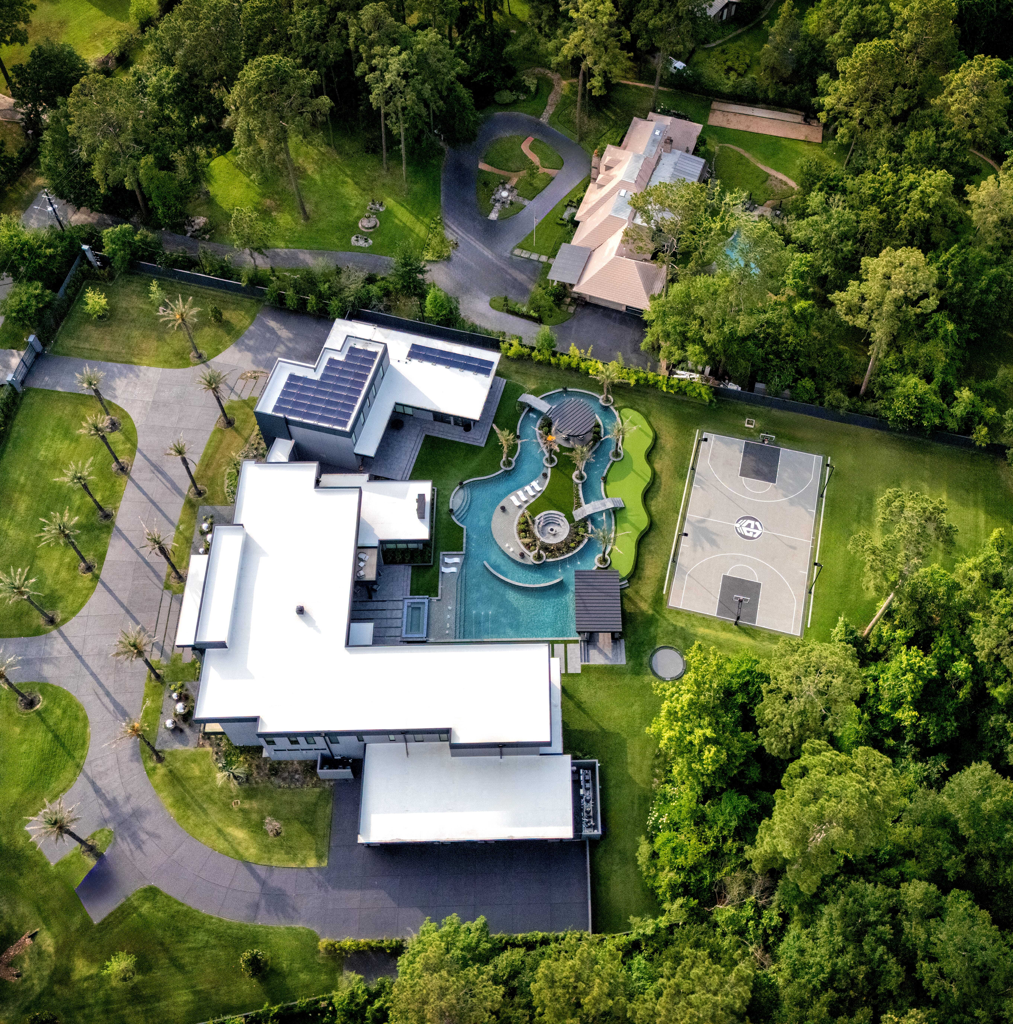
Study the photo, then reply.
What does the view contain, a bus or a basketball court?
basketball court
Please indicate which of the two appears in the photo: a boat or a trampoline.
trampoline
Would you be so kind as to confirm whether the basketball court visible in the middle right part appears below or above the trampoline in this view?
above it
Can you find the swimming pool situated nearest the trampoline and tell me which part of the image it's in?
center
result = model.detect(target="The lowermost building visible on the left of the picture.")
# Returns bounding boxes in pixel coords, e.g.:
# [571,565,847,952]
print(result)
[174,438,573,845]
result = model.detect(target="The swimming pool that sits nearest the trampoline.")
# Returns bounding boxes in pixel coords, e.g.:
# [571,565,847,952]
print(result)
[426,388,623,642]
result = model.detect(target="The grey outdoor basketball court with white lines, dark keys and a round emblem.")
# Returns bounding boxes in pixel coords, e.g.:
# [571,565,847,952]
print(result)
[666,429,826,637]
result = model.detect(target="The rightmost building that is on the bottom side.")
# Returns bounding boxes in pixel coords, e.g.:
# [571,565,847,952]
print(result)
[575,569,629,665]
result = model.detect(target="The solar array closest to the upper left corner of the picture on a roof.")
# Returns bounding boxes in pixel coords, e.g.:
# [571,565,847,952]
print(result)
[270,344,382,427]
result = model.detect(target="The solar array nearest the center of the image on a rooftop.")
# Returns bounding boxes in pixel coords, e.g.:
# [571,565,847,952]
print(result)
[404,344,496,377]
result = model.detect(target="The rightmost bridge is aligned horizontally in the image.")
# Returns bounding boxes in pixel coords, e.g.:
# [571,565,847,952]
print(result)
[572,498,625,521]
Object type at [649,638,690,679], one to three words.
trampoline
